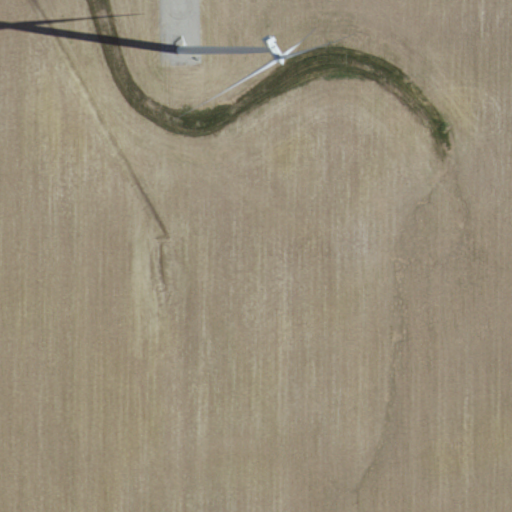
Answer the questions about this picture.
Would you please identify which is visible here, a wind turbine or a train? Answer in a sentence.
The one in the frame is a wind turbine.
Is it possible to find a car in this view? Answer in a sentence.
No, I find no car anywhere in the image.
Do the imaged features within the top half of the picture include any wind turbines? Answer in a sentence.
Yes, you'll find a wind turbine within the top half of the picture.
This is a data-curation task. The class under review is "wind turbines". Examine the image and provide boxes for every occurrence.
[176,30,345,108]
